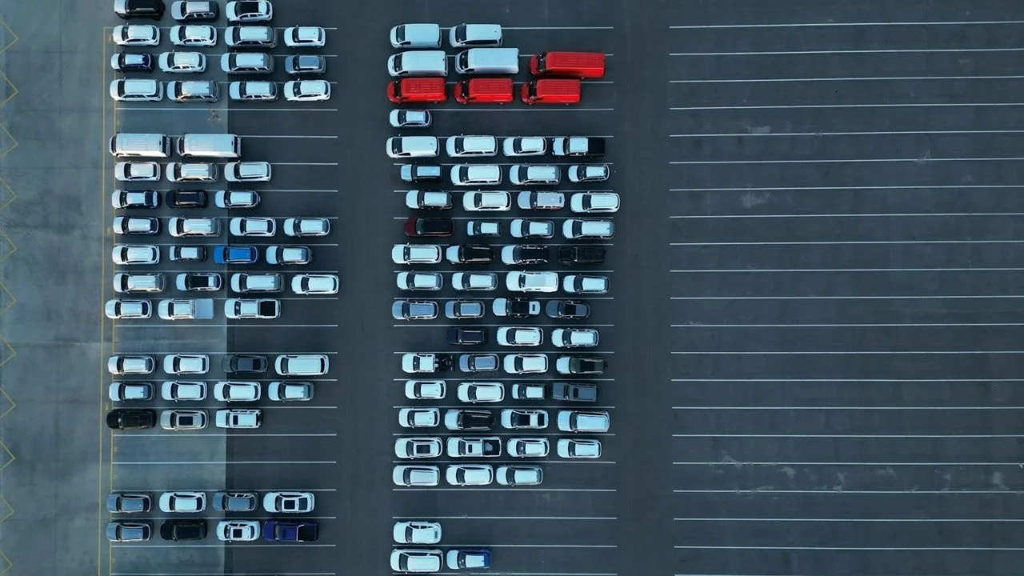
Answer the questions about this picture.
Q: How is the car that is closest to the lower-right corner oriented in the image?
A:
horizontally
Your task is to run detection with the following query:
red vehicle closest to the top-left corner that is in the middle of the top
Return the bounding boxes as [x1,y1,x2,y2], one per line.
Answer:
[387,78,447,104]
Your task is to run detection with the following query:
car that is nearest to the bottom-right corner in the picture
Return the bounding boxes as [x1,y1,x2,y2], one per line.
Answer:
[557,438,602,461]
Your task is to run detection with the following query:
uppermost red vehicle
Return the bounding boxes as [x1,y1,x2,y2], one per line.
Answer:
[529,52,605,79]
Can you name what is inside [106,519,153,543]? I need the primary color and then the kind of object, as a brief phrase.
blue car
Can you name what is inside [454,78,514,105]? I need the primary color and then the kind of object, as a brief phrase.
red vehicle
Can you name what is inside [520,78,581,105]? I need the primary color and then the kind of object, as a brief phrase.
red vehicle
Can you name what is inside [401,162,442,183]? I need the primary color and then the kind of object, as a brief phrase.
blue car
